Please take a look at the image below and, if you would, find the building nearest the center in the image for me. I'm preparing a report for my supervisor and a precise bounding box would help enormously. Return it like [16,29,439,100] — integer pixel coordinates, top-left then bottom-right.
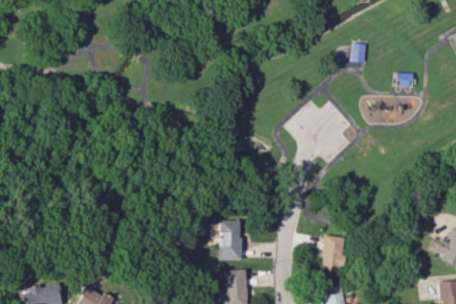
[218,220,242,261]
